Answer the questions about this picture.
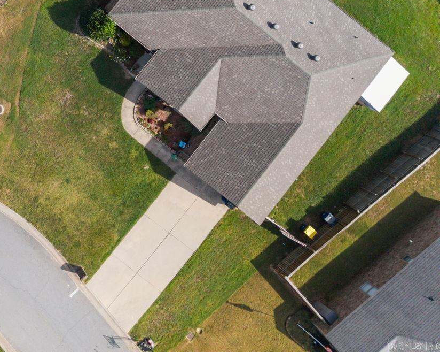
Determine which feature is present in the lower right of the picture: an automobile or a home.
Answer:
home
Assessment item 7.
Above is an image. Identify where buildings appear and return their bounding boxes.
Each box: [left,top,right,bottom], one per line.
[312,209,440,352]
[108,0,394,226]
